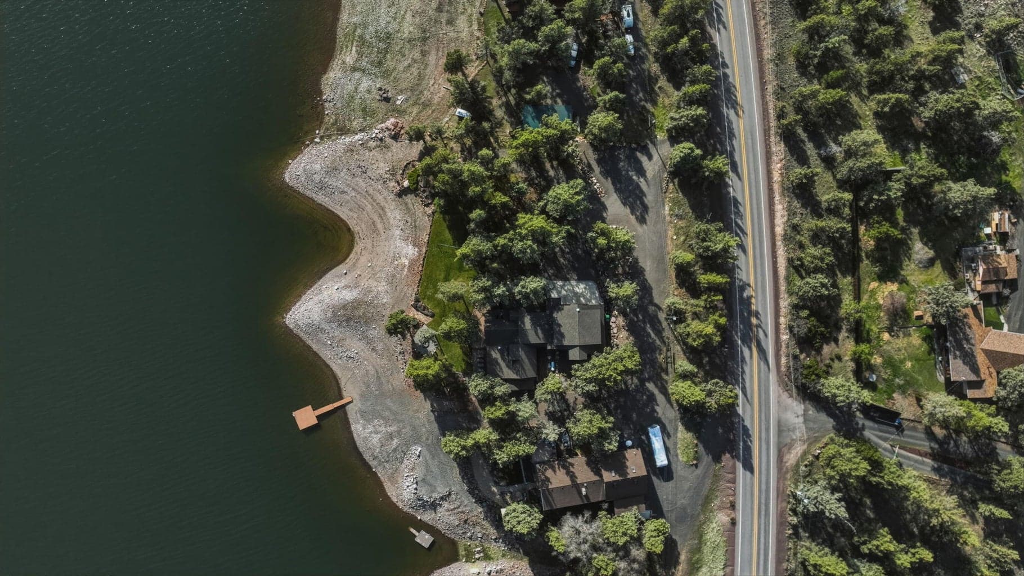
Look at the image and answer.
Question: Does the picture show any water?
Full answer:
Yes, some water is visible.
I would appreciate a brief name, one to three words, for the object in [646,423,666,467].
camper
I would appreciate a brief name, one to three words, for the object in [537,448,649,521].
house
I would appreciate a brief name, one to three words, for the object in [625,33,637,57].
vehicle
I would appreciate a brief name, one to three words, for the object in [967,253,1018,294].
house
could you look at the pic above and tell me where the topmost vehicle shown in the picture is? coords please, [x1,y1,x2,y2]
[621,2,634,29]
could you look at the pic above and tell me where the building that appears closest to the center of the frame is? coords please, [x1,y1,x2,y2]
[484,297,606,390]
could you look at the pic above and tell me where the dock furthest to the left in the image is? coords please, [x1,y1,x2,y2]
[292,396,353,430]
